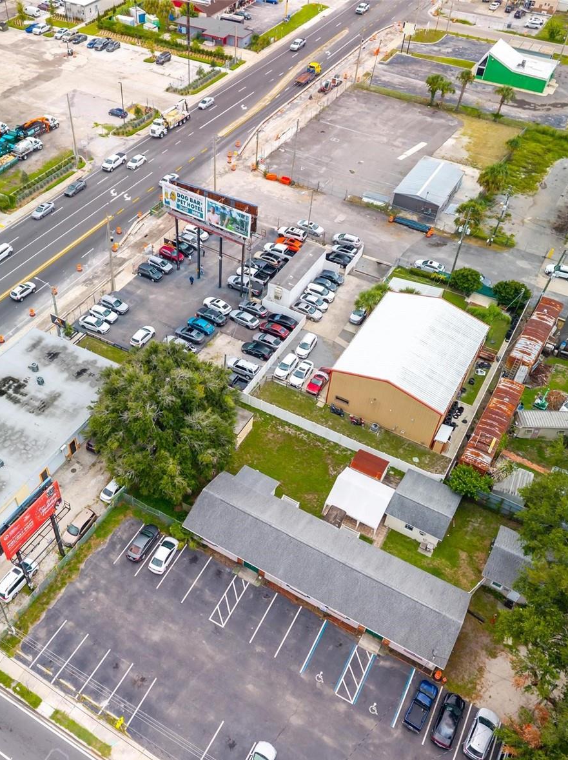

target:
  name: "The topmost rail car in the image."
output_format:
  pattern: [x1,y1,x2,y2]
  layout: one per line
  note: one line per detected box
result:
[502,302,565,386]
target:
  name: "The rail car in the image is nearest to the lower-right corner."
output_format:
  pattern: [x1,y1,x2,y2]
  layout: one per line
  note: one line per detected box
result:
[456,384,524,490]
